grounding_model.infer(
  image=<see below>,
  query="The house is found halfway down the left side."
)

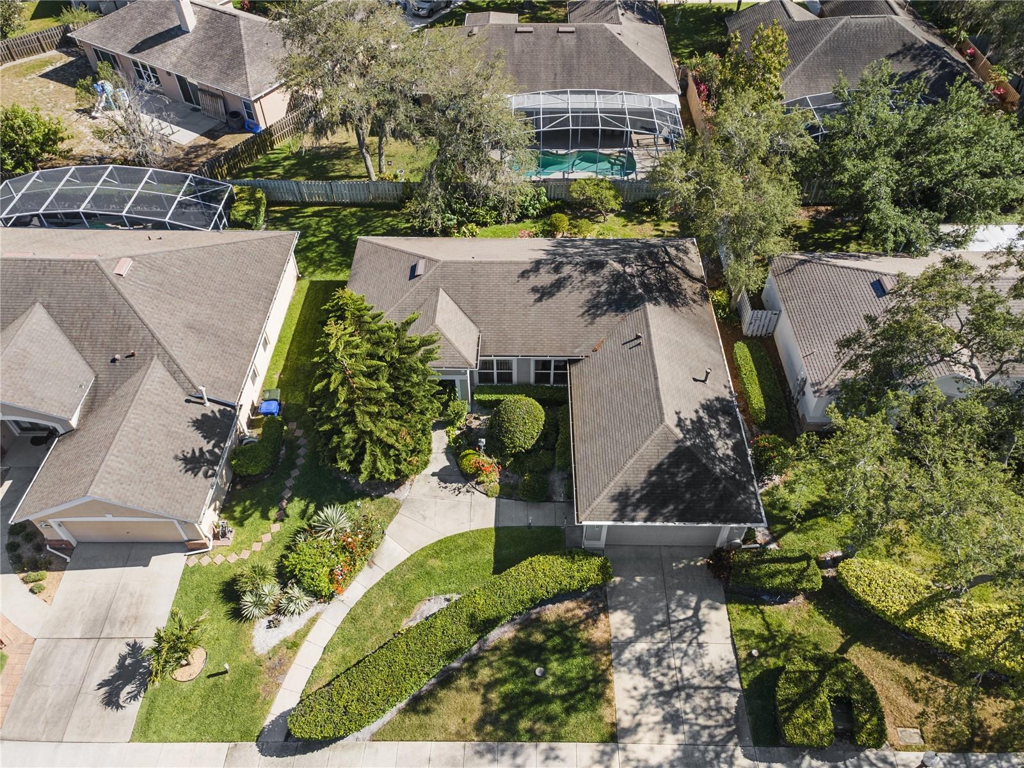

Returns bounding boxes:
[0,227,310,571]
